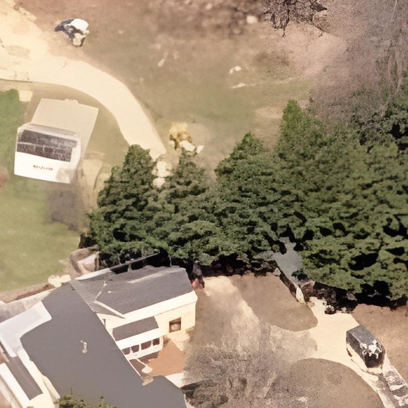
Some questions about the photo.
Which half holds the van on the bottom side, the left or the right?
right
